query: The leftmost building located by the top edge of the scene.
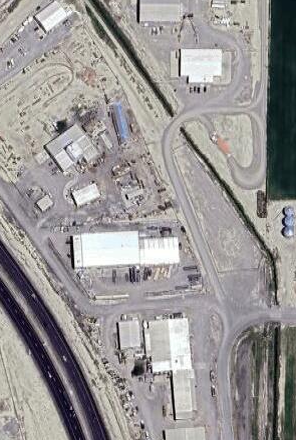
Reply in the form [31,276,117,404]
[36,2,72,31]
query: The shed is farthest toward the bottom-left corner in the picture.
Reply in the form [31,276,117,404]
[118,321,141,349]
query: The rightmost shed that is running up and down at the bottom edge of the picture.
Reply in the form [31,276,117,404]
[172,370,197,420]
